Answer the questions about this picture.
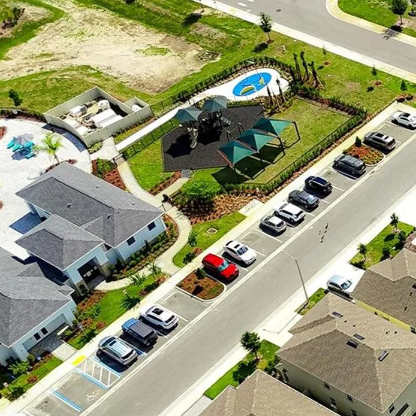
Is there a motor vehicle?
Yes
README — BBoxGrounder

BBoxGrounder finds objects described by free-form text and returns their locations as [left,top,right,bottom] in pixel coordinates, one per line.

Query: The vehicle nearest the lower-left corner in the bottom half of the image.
[94,341,137,371]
